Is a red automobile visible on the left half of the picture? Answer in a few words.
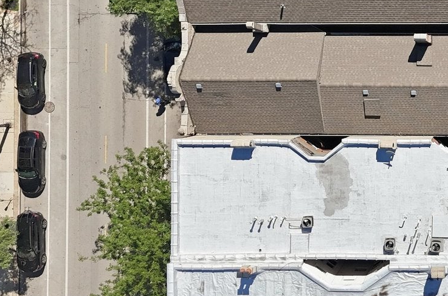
No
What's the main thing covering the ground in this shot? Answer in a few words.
buildings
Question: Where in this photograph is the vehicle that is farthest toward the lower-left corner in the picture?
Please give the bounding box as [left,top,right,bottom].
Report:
[10,205,46,276]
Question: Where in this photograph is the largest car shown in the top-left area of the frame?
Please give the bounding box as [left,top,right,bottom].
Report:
[9,51,46,110]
